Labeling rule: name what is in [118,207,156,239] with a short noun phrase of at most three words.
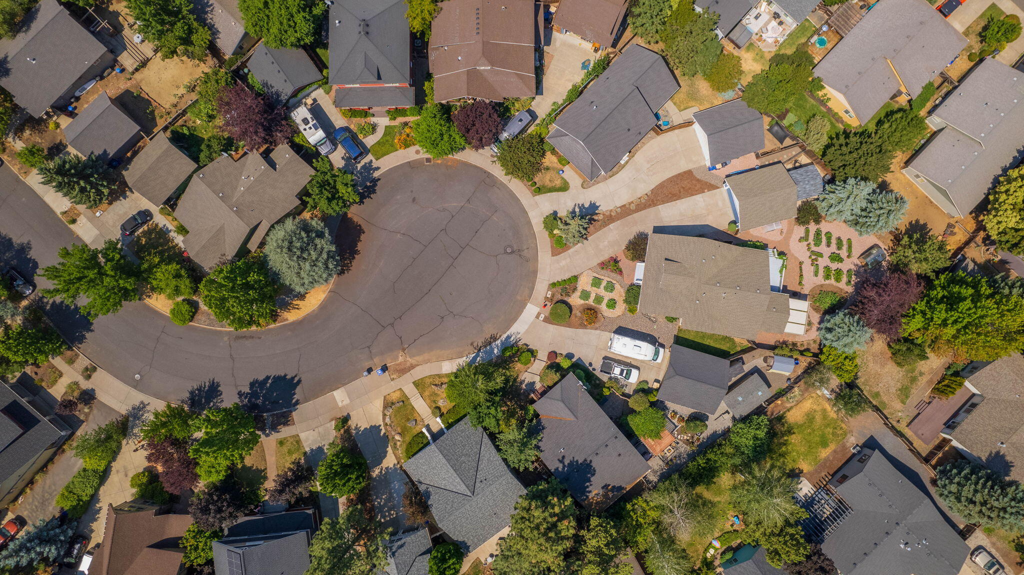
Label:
car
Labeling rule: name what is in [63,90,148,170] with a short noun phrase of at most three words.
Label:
building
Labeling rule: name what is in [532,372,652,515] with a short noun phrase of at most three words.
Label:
house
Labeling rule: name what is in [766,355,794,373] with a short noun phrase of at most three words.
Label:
shed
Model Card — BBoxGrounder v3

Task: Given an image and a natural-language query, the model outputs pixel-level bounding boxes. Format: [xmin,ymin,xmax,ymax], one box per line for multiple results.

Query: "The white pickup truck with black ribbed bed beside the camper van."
[597,358,642,383]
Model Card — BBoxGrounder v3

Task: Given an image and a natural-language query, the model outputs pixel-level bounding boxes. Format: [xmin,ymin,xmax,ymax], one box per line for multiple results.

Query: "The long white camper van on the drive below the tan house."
[605,330,662,359]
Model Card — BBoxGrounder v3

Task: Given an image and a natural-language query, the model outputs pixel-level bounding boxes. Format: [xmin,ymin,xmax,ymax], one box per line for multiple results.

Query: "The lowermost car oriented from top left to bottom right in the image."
[969,545,1005,575]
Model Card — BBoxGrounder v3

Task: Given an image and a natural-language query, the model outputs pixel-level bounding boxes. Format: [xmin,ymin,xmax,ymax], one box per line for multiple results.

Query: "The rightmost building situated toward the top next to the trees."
[901,58,1024,219]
